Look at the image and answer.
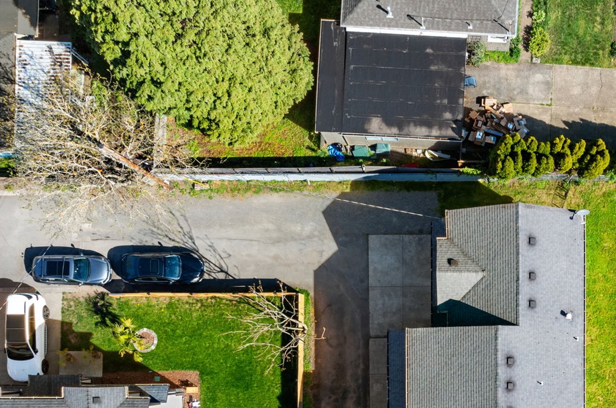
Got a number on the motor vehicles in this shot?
3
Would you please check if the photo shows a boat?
No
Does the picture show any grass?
Yes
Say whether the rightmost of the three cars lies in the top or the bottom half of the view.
bottom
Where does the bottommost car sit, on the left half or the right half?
left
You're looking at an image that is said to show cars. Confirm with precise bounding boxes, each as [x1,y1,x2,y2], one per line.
[2,295,51,381]
[121,247,207,288]
[30,248,114,288]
